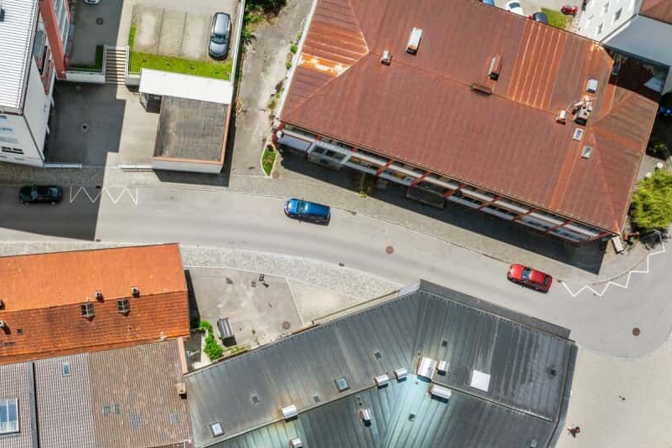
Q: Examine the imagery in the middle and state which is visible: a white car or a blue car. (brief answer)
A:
blue car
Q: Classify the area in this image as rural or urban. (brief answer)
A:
urban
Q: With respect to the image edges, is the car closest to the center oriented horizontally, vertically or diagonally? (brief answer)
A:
horizontally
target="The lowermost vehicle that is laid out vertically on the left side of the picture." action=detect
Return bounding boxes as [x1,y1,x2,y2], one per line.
[208,13,231,64]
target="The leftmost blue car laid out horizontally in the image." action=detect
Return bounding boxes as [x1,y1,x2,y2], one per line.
[284,199,330,224]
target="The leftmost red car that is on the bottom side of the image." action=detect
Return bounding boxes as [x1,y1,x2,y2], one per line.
[503,265,551,291]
